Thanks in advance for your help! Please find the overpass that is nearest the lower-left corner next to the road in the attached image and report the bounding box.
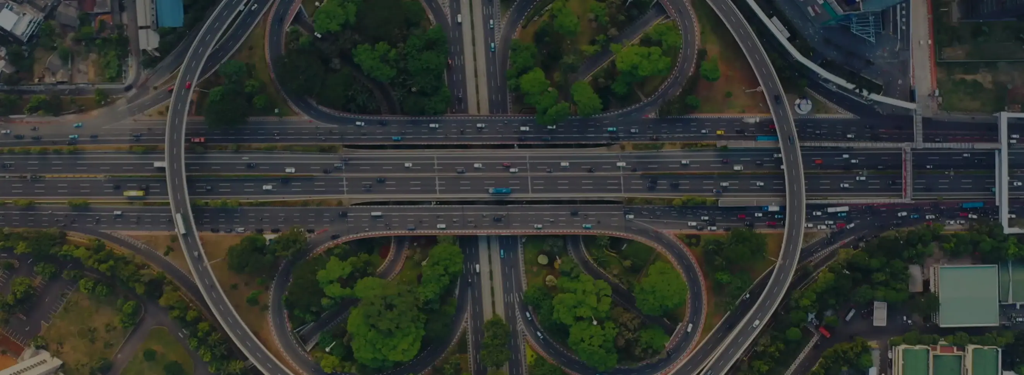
[163,0,294,375]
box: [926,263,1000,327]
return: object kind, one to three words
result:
building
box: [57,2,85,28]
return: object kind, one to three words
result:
house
